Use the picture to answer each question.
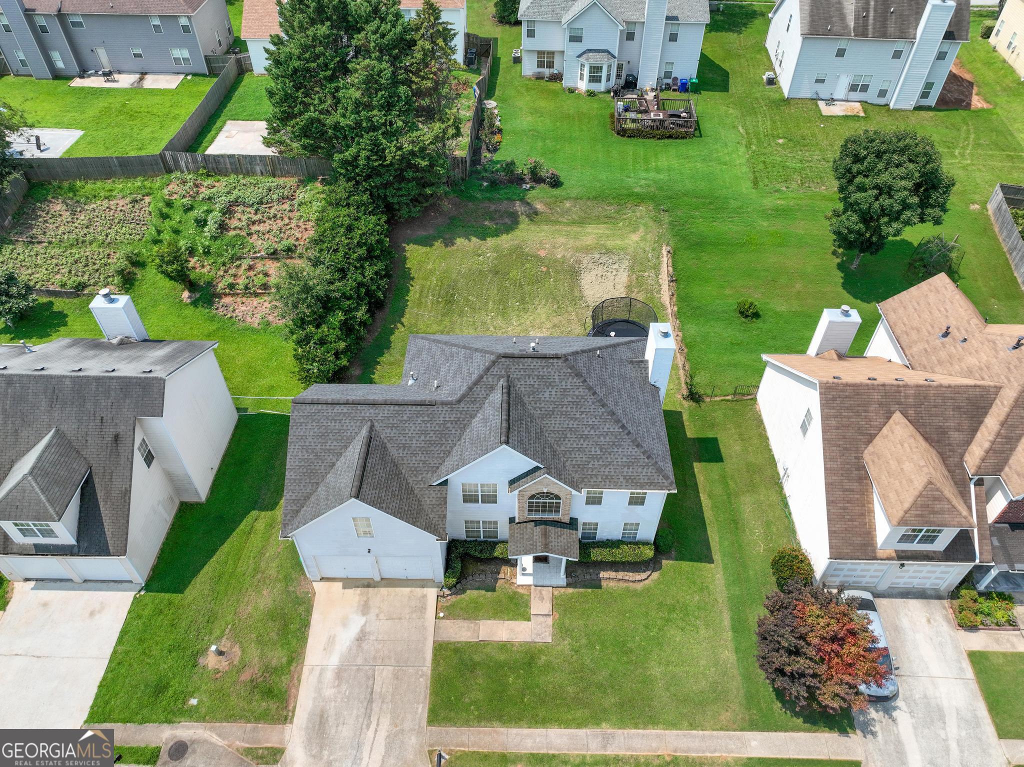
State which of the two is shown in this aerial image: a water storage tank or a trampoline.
trampoline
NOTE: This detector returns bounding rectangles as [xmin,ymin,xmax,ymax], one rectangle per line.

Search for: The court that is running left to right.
[0,129,84,159]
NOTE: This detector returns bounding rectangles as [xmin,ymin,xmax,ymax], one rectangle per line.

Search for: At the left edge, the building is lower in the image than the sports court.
[0,290,239,586]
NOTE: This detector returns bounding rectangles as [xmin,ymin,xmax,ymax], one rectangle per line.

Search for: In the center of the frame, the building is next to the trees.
[282,322,679,586]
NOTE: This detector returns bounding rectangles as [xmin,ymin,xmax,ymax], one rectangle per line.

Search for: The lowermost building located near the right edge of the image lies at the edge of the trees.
[756,273,1024,608]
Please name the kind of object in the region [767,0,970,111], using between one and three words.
house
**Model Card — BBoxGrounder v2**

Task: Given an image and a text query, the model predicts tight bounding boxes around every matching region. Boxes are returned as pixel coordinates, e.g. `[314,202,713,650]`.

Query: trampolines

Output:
[589,299,660,338]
